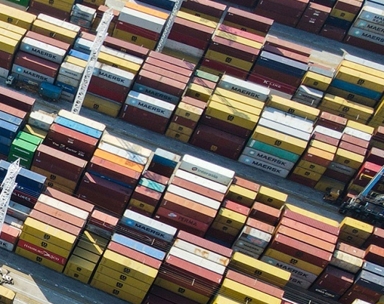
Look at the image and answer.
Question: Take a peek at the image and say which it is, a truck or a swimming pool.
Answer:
truck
